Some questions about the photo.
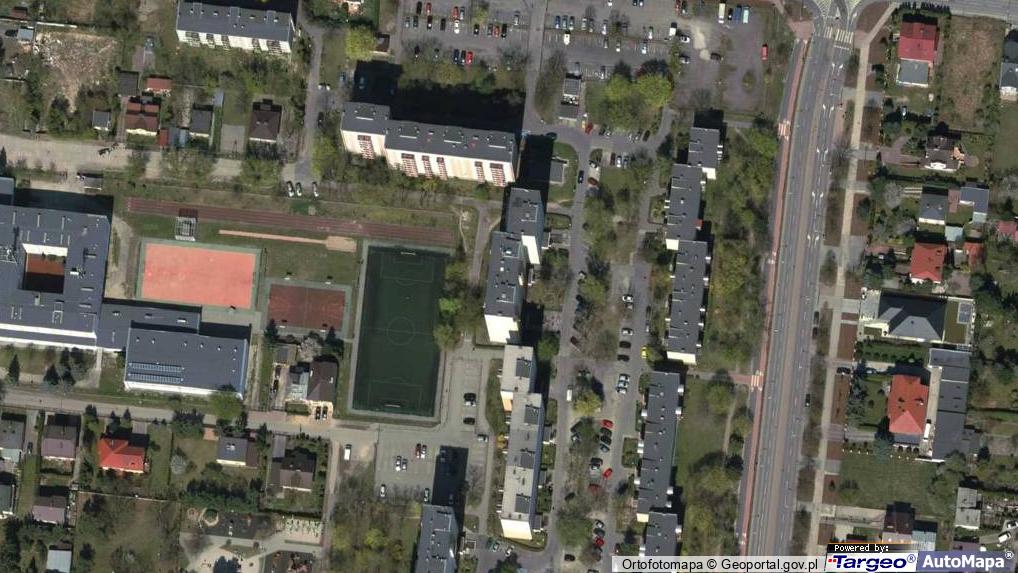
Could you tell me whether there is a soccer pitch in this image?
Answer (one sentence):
Yes, there's a soccer pitch here.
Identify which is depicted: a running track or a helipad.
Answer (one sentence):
This aerial view contains a running track.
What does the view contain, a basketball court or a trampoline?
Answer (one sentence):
This aerial view contains a basketball court.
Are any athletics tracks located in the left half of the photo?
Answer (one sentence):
Yes, the scene does show an athletics track in the left half of the photo.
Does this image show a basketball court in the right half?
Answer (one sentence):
No, looking in the right half, there is no basketball court.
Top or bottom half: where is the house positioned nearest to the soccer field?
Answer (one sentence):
The house positioned nearest to the soccer field is in the bottom half of the image.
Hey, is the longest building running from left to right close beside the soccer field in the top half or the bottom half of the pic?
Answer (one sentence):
You can find the longest building running from left to right close beside the soccer field in the top half.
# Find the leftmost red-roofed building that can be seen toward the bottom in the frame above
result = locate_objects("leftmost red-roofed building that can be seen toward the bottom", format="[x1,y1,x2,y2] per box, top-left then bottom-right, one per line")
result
[98,438,130,473]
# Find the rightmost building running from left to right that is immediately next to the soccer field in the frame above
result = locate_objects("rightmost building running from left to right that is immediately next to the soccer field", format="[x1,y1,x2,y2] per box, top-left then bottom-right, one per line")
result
[341,101,519,183]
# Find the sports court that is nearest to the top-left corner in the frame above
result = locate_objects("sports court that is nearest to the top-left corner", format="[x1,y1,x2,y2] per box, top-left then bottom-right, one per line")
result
[136,239,262,312]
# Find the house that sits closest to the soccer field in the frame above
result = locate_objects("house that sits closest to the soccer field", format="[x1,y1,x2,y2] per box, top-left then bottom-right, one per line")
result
[306,361,338,404]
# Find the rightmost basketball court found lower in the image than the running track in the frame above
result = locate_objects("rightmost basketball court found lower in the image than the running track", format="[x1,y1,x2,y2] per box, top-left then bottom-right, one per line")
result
[262,278,353,340]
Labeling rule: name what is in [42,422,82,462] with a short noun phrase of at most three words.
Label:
house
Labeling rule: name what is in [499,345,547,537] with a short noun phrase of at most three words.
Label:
building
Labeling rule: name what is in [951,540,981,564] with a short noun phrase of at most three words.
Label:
shed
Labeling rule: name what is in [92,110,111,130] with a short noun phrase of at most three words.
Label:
house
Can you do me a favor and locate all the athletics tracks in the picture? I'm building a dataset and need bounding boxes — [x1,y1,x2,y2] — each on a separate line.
[128,197,454,247]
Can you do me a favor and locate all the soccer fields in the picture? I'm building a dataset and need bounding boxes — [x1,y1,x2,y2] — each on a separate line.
[347,240,452,425]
